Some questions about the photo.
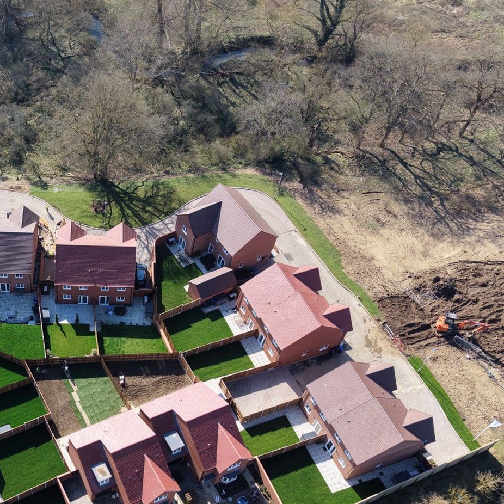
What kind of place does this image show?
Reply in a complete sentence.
It's a residential area.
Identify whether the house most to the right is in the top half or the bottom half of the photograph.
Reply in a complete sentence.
The house most to the right is in the bottom half of the image.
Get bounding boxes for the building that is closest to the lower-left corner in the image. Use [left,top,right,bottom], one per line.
[68,409,181,504]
